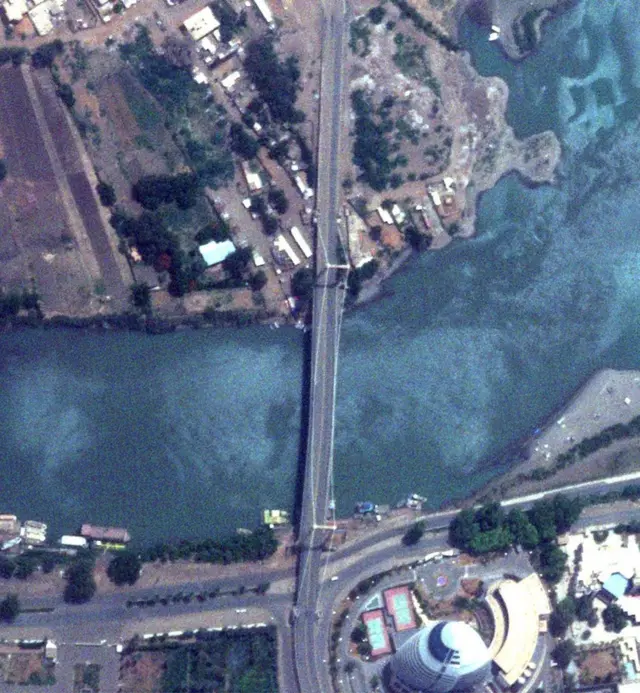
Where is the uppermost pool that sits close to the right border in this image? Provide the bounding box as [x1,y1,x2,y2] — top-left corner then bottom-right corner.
[603,573,628,598]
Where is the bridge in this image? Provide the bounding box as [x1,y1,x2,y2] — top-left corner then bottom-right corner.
[293,0,350,693]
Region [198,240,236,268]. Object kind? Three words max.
house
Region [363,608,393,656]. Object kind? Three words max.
tennis court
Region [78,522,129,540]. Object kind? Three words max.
ship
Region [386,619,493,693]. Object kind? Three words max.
building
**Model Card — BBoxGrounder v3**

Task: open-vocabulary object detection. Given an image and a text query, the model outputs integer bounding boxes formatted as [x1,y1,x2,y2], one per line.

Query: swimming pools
[603,573,628,598]
[626,665,635,679]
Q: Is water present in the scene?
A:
Yes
